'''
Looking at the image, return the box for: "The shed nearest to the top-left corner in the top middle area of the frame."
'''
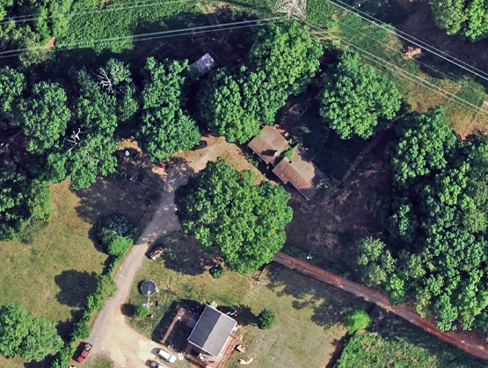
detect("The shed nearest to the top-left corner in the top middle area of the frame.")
[189,53,214,76]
